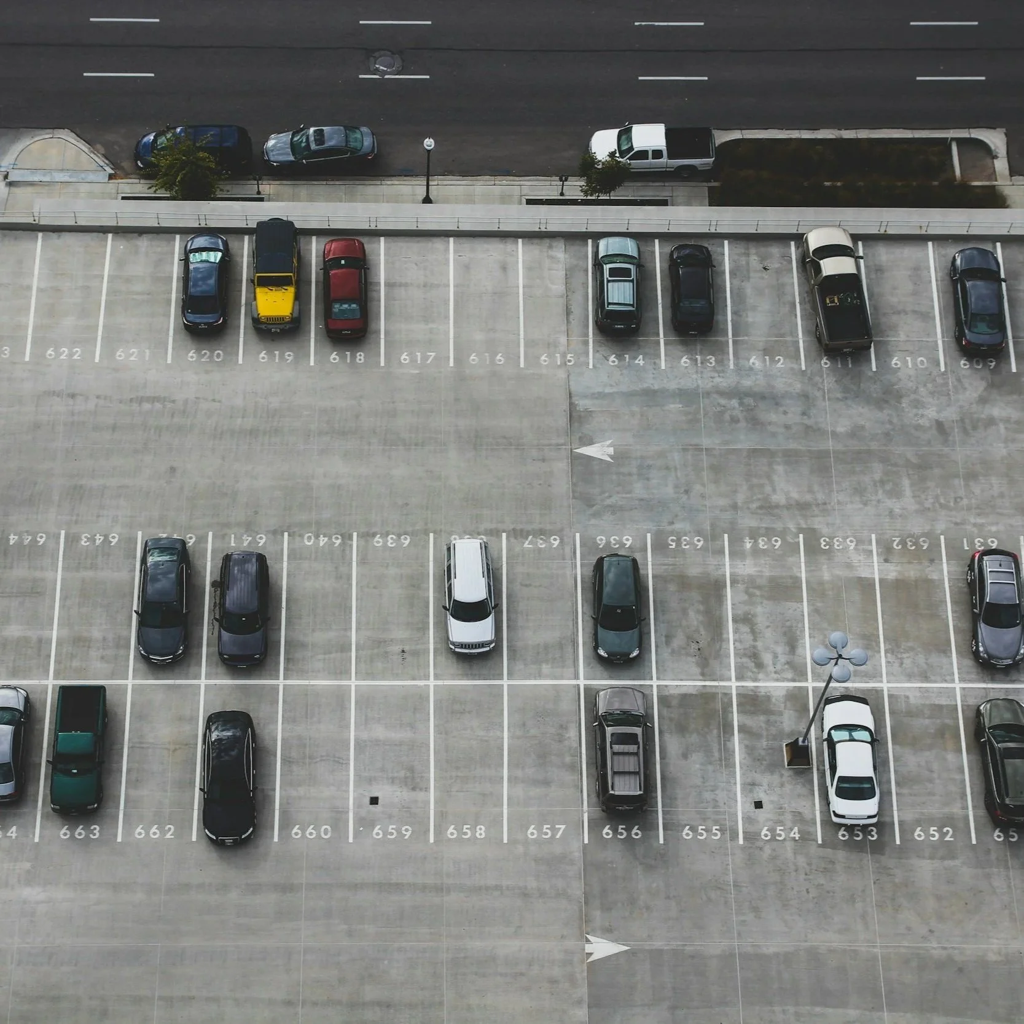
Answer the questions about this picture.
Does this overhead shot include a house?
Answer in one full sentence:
No, no house is visible in the view.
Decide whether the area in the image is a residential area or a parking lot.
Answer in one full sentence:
This image shows a parking lot.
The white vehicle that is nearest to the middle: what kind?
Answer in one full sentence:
The white vehicle that is nearest to the middle in the image is a car.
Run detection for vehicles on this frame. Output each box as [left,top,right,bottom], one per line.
[197,710,260,847]
[805,228,874,355]
[212,554,273,670]
[46,686,108,817]
[587,122,716,178]
[0,685,30,805]
[952,247,1008,359]
[822,694,881,833]
[132,537,192,666]
[593,236,646,339]
[263,124,378,179]
[667,243,719,338]
[966,549,1024,670]
[590,556,647,666]
[177,233,232,336]
[441,544,501,657]
[248,218,302,332]
[593,687,653,816]
[975,698,1024,828]
[319,238,371,342]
